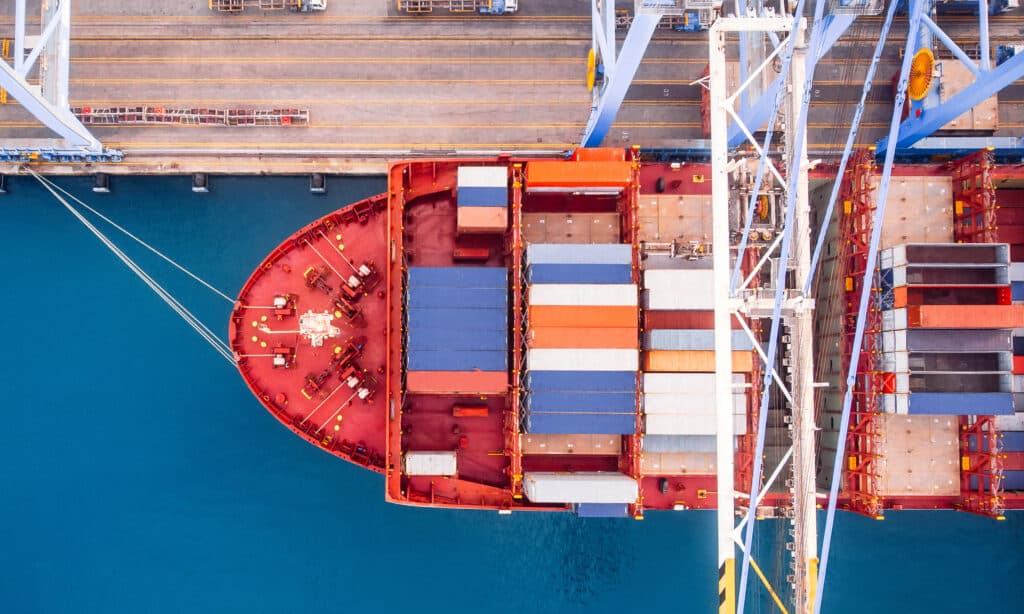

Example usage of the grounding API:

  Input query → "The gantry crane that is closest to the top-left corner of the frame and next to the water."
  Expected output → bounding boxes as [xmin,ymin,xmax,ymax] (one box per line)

[0,0,131,160]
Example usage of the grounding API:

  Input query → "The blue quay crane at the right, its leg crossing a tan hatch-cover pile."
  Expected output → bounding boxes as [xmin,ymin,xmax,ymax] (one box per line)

[863,0,1024,160]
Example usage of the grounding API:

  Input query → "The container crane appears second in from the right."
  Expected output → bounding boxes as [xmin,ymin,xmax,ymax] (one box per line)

[571,0,927,614]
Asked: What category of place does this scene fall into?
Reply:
port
